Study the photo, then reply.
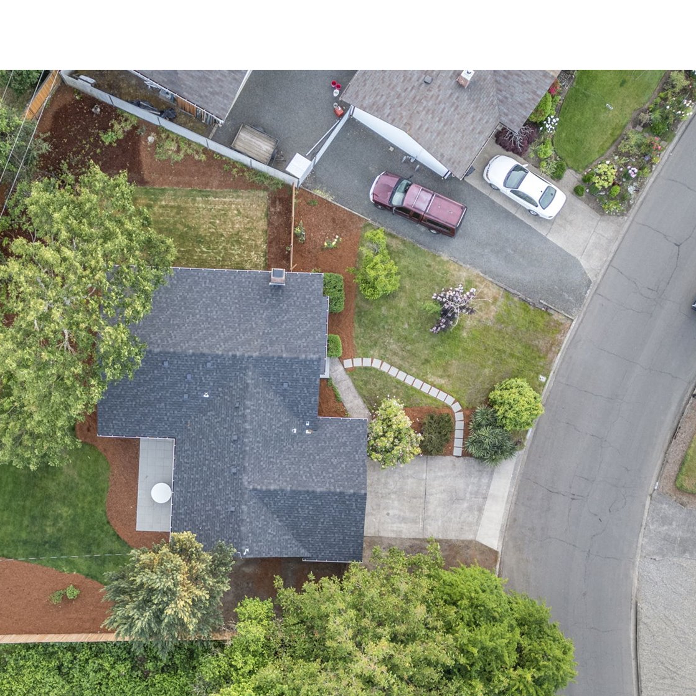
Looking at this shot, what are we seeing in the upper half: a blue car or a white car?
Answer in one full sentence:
You can see a white car in the upper half.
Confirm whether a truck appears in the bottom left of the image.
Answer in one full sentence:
No, I see no truck in the bottom left of the image.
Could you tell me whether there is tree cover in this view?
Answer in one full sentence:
Yes, the picture does contain tree cover.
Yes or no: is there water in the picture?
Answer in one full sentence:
No, water can't be seen anywhere here.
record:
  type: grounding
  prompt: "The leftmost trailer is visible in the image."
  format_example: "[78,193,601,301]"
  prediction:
[230,121,286,162]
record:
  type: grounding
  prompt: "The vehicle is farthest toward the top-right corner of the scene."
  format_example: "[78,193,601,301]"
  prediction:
[478,151,575,223]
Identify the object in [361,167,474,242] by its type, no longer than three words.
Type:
truck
